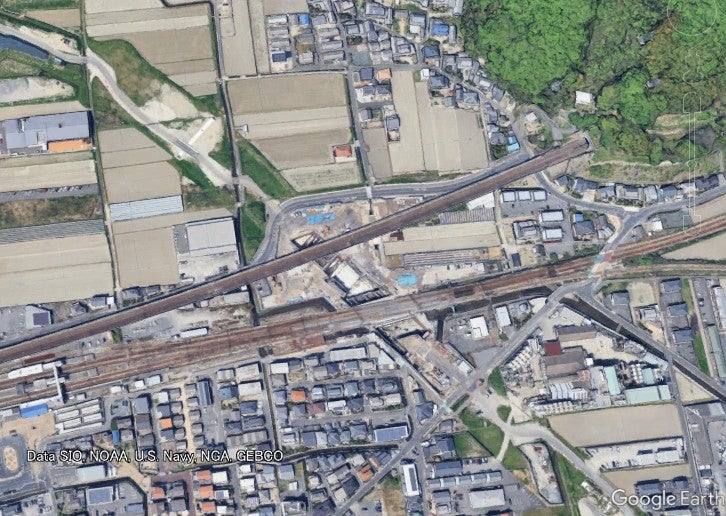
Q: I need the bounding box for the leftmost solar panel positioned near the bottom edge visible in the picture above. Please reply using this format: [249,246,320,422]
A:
[89,488,112,503]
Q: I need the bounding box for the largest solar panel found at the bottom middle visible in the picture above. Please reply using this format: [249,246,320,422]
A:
[376,427,405,440]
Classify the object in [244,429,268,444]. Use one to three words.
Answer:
house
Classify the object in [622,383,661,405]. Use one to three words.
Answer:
building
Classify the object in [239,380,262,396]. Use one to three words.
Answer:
house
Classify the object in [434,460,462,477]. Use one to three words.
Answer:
building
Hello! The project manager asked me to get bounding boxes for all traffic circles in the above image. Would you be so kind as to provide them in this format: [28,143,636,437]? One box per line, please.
[0,427,30,485]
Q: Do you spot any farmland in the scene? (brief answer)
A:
Yes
